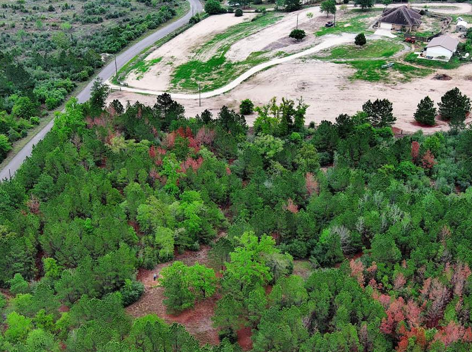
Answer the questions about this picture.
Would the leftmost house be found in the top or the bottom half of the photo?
top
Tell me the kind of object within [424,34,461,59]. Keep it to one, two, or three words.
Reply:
barn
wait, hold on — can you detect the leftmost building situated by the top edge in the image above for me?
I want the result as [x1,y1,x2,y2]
[378,7,433,33]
